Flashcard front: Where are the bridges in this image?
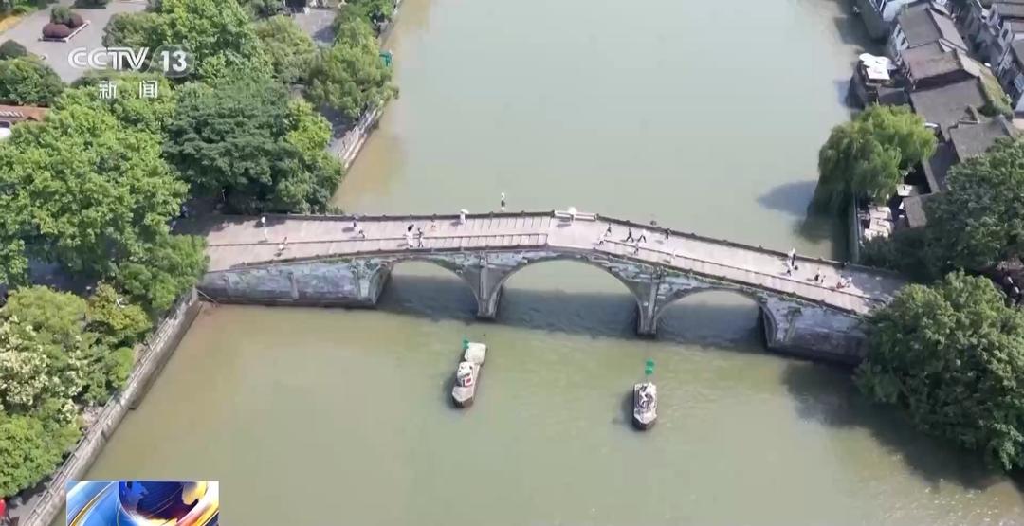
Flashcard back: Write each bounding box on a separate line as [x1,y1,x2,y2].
[195,208,974,372]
